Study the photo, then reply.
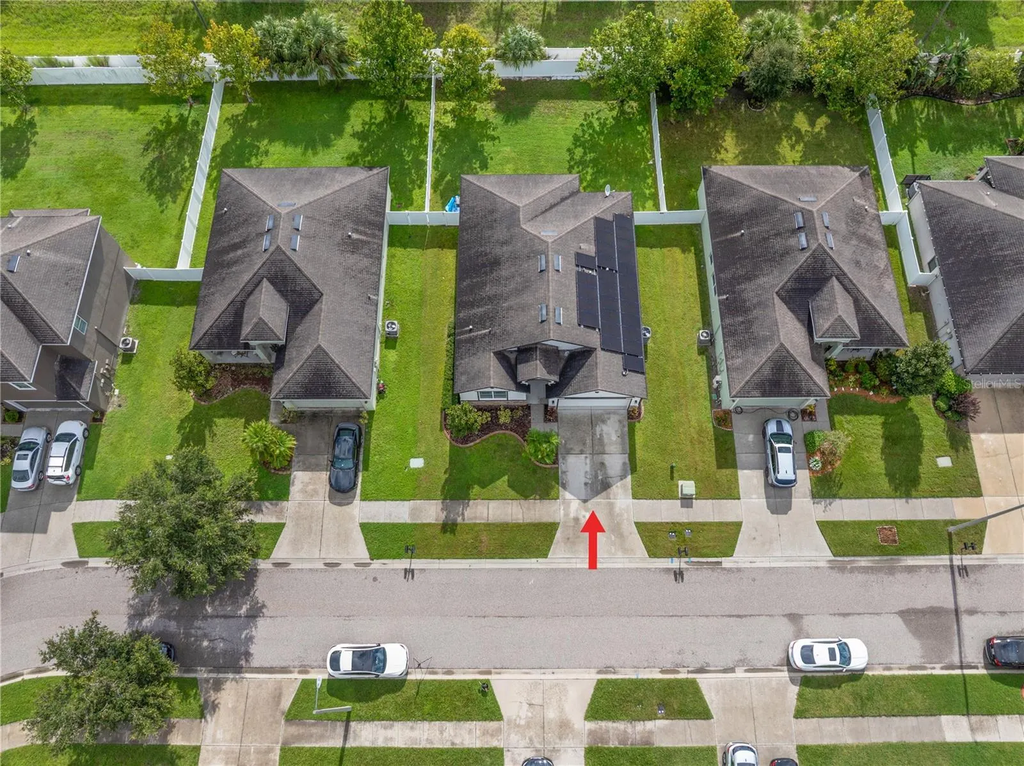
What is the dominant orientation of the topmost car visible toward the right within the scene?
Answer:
from top to bottom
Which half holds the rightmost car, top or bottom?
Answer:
bottom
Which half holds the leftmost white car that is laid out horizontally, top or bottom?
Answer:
bottom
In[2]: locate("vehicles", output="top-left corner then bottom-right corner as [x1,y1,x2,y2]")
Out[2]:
[9,427,53,491]
[41,421,88,487]
[980,636,1024,669]
[328,421,363,493]
[763,418,799,487]
[326,641,409,681]
[767,757,801,766]
[785,637,869,674]
[723,742,759,766]
[523,757,553,766]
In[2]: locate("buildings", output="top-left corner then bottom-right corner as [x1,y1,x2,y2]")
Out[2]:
[190,167,390,410]
[454,174,647,408]
[903,157,1024,385]
[0,208,137,412]
[698,167,909,410]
